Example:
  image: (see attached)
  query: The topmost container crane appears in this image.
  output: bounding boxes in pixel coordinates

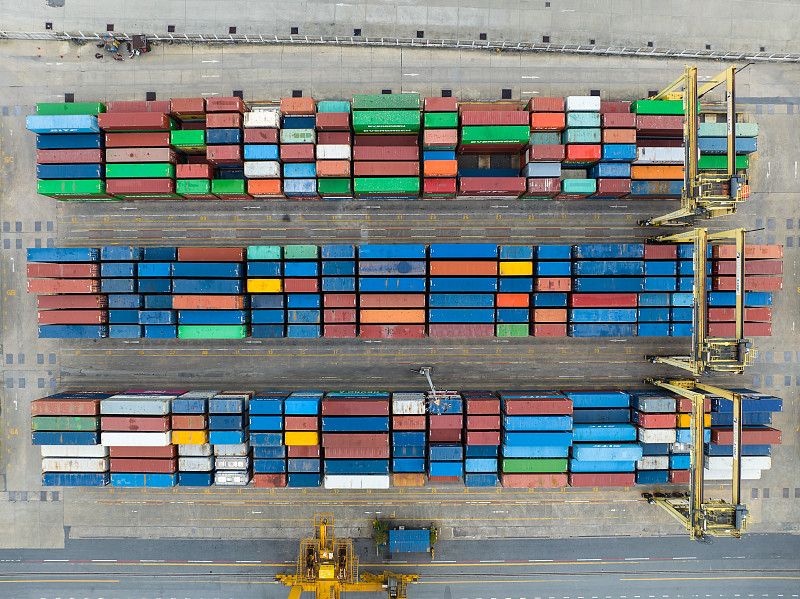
[638,57,755,227]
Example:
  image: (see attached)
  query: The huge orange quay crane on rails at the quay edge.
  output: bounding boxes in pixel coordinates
[274,512,418,599]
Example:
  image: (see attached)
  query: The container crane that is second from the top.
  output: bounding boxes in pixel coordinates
[645,225,763,376]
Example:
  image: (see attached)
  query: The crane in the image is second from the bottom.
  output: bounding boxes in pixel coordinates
[644,375,760,540]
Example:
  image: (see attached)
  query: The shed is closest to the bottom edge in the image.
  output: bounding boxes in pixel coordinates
[390,524,430,551]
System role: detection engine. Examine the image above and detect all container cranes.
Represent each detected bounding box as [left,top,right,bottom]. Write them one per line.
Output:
[644,375,760,540]
[645,225,763,376]
[274,512,418,599]
[638,57,755,227]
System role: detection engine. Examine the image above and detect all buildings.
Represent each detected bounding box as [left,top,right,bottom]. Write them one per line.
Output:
[131,35,148,52]
[390,524,430,551]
